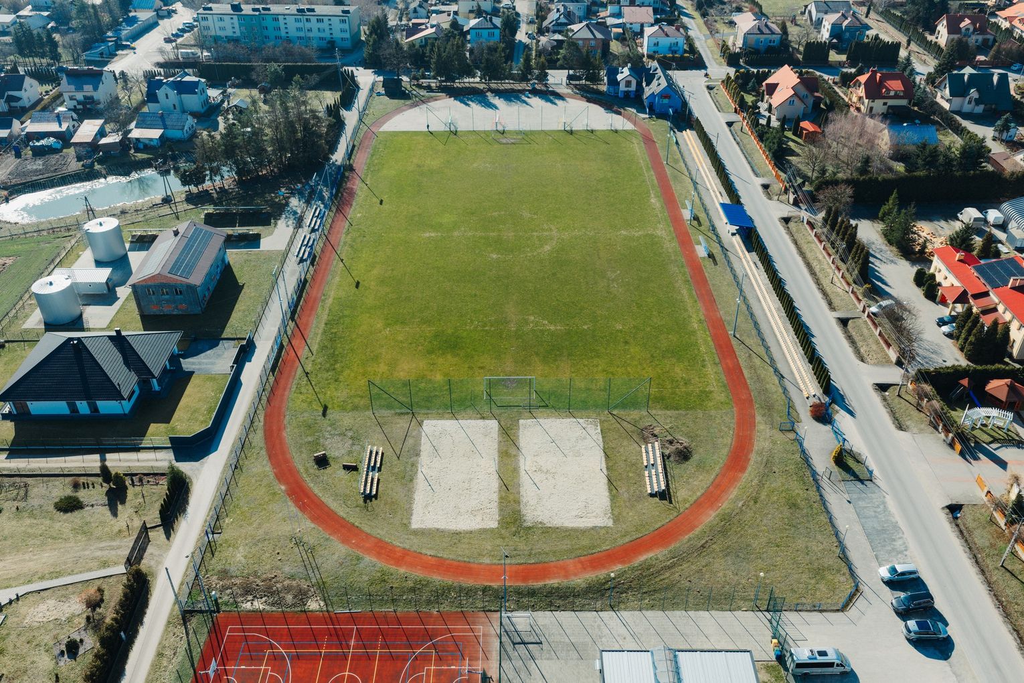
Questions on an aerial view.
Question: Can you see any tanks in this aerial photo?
Yes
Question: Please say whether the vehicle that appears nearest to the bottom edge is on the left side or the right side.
right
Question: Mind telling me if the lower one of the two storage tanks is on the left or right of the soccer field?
on the left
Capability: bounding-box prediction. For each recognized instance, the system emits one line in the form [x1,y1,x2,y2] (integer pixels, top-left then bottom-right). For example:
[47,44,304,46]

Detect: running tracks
[263,89,756,586]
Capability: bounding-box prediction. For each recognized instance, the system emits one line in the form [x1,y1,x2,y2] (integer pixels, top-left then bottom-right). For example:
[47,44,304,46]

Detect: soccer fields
[289,130,731,415]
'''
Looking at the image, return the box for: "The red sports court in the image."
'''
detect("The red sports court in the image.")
[185,611,501,683]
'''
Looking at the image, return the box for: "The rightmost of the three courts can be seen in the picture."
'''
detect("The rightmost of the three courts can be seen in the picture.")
[517,418,614,529]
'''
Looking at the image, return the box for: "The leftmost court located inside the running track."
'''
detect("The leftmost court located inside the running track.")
[408,419,501,532]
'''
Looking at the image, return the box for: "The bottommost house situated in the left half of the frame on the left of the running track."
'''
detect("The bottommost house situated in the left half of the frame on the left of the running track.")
[0,326,188,423]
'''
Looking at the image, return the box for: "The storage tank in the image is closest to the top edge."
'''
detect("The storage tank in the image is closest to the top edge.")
[82,217,130,264]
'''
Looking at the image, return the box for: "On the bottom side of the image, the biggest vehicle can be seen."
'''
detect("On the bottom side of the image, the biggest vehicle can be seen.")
[790,646,855,678]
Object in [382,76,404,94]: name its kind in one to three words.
shed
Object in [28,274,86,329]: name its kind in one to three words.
storage tank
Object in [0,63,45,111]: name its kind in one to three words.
house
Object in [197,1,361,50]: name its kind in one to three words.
building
